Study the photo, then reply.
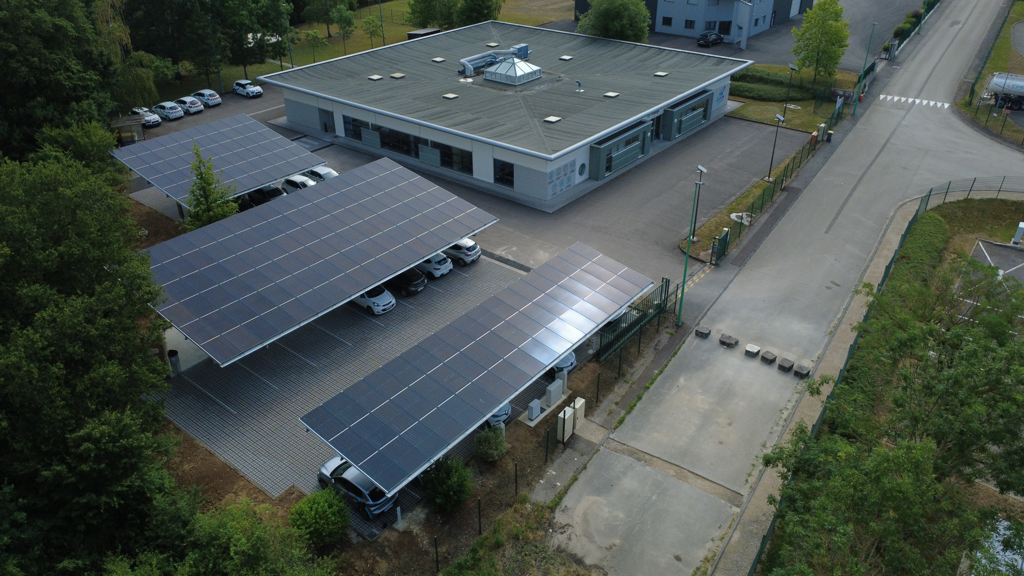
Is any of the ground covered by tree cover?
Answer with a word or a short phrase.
Yes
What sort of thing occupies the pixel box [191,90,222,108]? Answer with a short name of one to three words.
car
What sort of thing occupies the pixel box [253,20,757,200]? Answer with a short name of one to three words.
building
